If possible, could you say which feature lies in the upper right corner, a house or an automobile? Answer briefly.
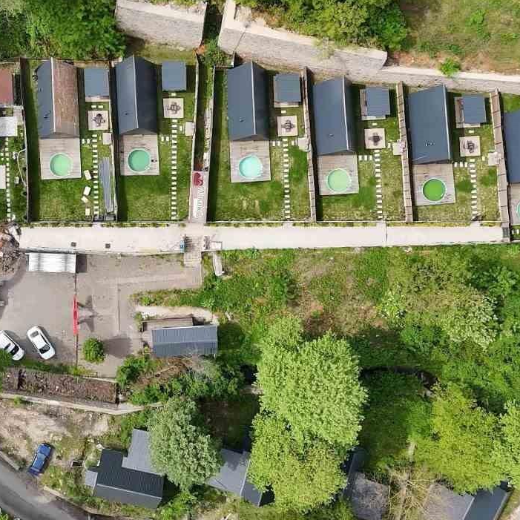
house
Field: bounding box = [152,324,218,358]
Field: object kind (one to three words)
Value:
building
